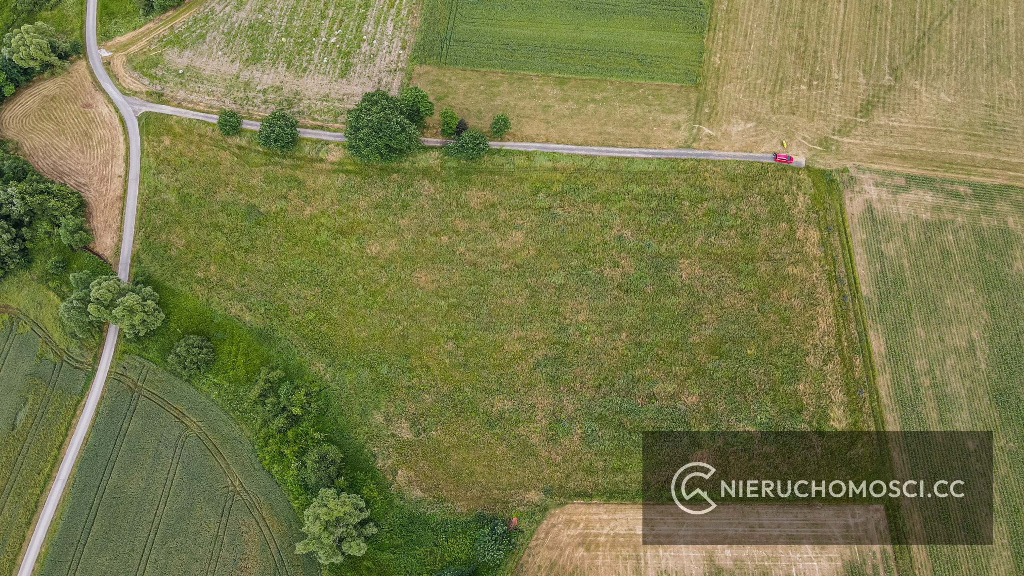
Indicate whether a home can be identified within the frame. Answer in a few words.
No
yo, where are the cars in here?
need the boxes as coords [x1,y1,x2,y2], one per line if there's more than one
[774,152,795,164]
